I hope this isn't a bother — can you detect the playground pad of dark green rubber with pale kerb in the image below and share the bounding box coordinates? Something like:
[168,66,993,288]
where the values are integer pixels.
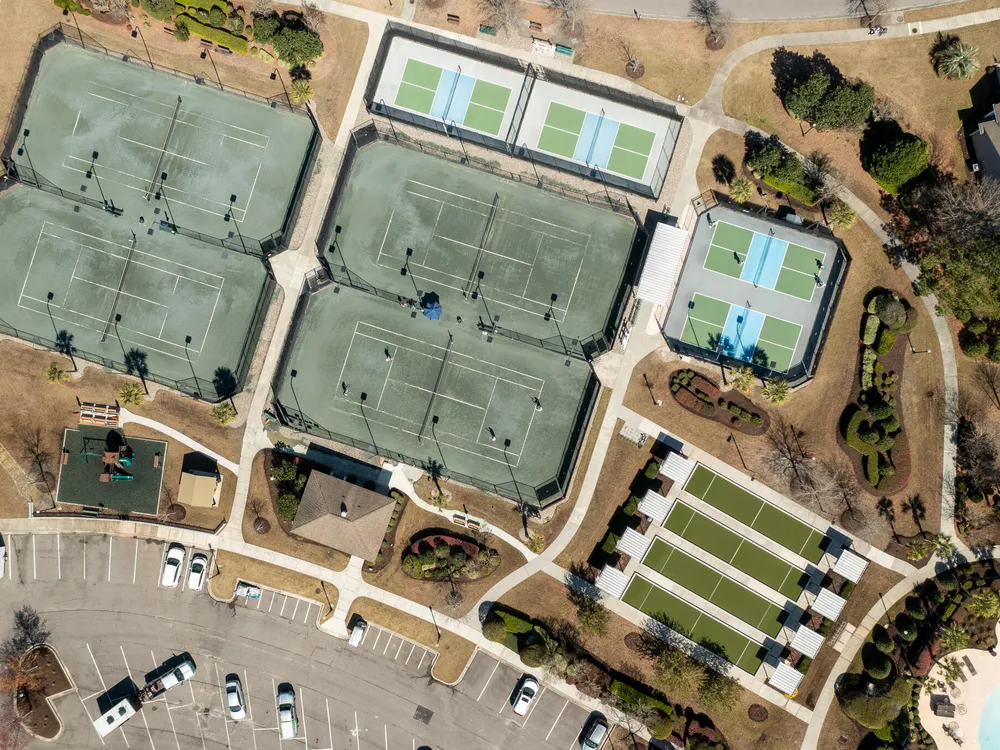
[56,425,168,516]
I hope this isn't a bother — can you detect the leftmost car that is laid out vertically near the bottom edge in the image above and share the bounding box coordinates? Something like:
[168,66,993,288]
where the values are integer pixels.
[226,678,247,718]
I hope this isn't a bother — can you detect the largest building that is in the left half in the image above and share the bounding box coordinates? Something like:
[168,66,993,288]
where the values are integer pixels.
[290,470,397,561]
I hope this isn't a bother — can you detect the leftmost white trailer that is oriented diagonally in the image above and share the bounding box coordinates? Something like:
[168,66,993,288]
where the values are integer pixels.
[92,692,147,737]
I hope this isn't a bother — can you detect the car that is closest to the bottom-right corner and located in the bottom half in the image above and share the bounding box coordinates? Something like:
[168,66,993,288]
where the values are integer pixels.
[580,717,609,750]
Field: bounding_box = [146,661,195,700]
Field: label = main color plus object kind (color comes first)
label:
white truck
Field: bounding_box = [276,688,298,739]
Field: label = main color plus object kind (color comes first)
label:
white truck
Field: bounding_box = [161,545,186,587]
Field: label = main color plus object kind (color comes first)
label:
white car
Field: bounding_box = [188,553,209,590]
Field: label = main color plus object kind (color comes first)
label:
white car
